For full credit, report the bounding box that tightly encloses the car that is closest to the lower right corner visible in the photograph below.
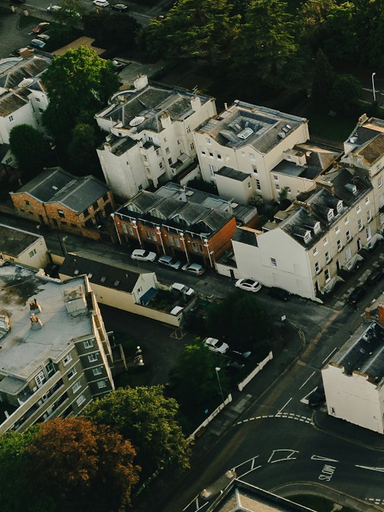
[302,385,329,410]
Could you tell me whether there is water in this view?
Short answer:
No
